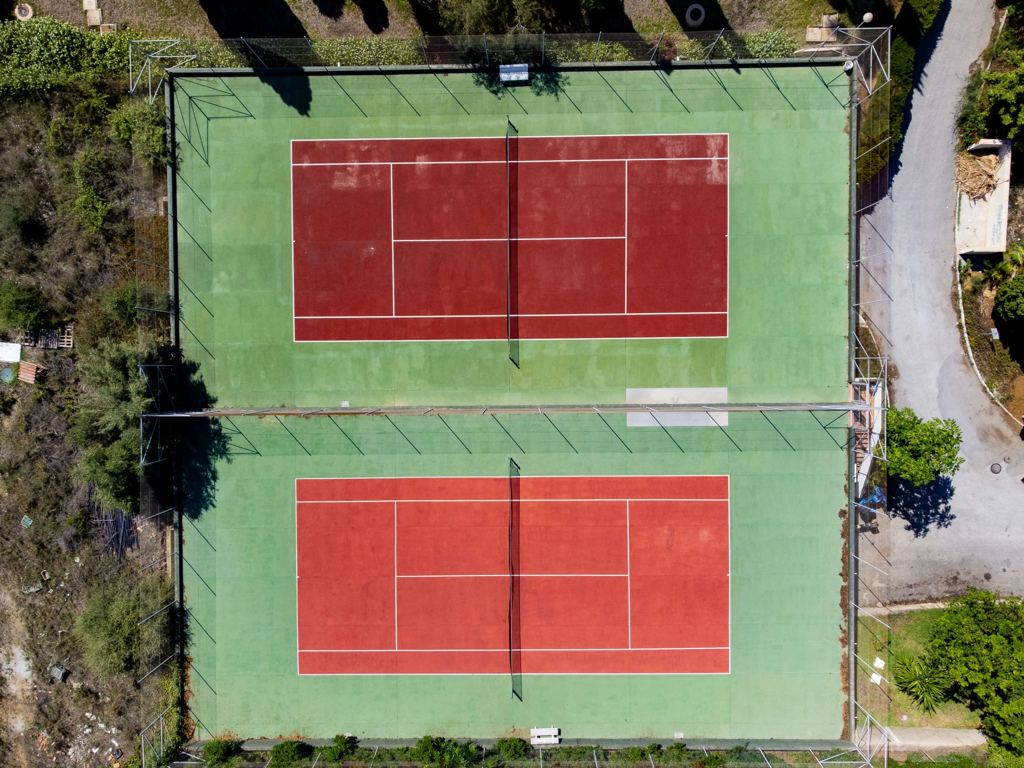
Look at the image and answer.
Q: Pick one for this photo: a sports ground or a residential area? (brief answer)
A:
sports ground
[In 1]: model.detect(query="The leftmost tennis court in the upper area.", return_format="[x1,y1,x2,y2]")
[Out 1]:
[175,66,849,407]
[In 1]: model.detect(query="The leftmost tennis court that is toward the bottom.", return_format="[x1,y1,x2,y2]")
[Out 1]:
[181,407,849,740]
